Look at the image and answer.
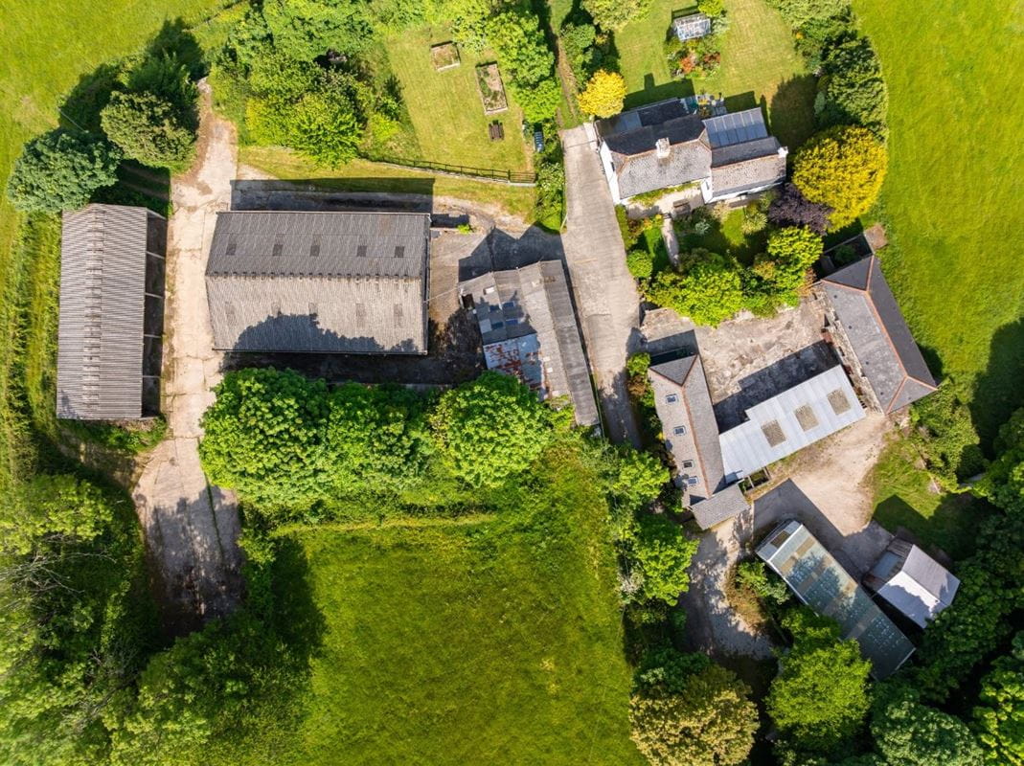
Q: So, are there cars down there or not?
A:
No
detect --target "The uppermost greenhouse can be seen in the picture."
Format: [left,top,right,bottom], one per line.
[671,14,711,47]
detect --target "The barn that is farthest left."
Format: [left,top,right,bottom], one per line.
[56,204,166,421]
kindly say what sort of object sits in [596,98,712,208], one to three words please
house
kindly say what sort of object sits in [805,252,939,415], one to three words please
barn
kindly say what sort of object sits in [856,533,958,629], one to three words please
shed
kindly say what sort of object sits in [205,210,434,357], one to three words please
barn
